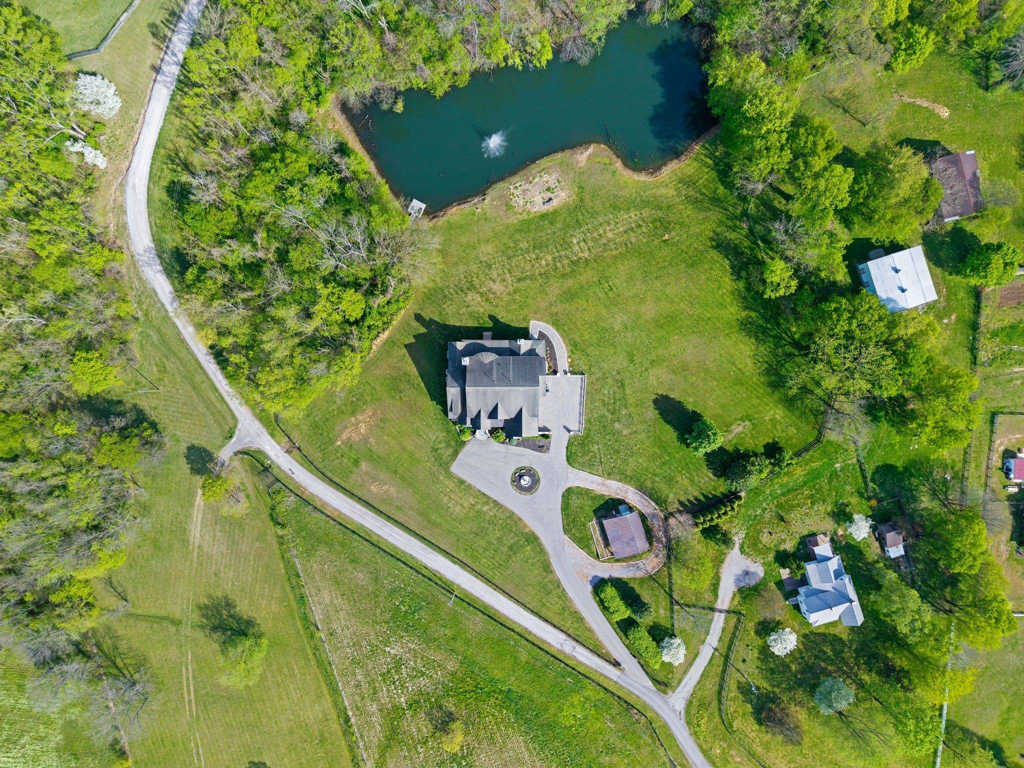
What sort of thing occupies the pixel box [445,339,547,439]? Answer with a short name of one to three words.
house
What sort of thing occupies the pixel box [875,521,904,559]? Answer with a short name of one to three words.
shed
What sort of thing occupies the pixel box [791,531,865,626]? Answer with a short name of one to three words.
house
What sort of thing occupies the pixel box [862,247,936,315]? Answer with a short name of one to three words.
barn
